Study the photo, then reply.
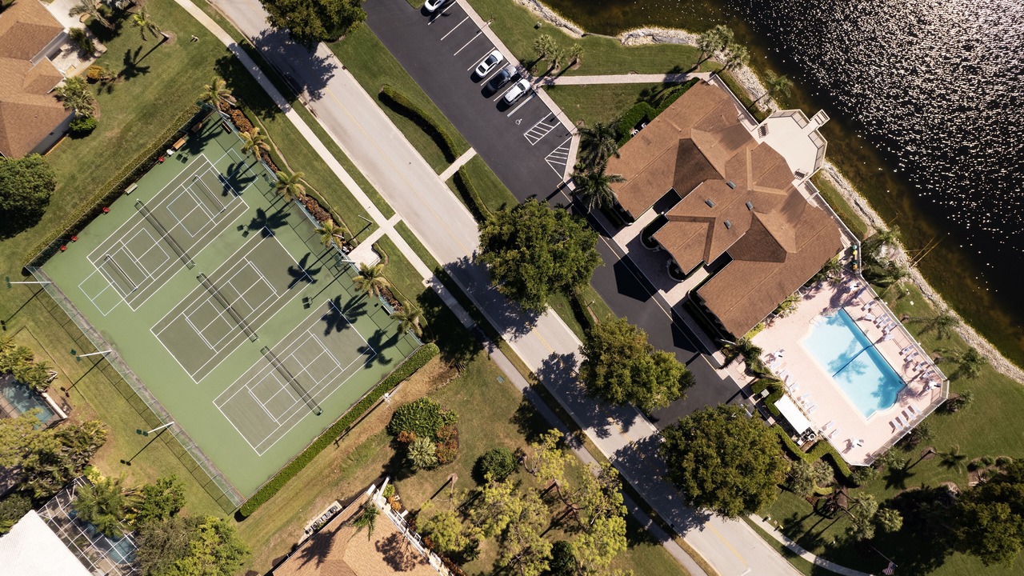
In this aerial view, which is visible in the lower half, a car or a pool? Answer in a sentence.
What appears in the lower half is a pool.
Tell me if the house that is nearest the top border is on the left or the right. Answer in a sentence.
The house that is nearest the top border is on the left side of the image.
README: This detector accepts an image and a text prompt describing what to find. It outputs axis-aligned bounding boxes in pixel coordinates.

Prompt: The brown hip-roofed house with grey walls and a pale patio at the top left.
[0,0,80,172]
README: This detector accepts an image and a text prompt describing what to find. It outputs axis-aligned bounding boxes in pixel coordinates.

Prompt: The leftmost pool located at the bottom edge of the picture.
[44,478,163,576]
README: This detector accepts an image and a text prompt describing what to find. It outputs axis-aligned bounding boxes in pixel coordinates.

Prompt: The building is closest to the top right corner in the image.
[600,80,843,339]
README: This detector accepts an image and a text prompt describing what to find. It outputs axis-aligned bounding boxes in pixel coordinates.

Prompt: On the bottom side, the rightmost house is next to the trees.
[275,491,439,576]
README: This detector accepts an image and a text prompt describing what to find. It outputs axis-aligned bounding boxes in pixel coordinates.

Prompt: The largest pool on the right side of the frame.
[751,244,947,463]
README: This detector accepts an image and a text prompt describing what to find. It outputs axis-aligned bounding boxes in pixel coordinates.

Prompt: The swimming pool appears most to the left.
[0,366,67,435]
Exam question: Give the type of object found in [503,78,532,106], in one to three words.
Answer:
car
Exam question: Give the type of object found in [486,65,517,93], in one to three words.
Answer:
car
